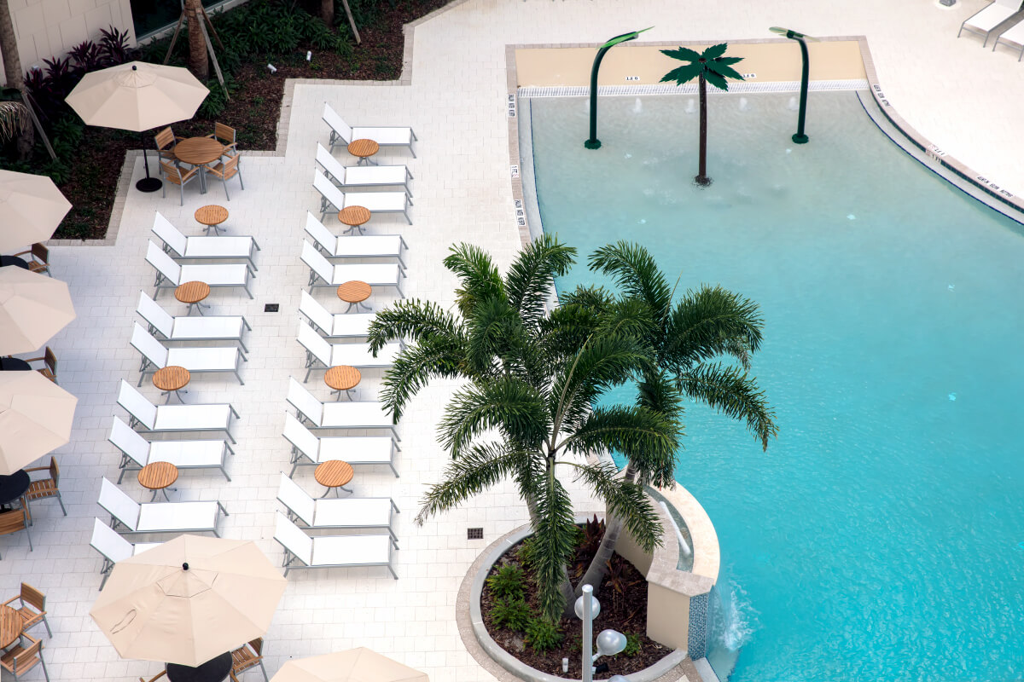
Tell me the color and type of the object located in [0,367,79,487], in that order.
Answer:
white umbrella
